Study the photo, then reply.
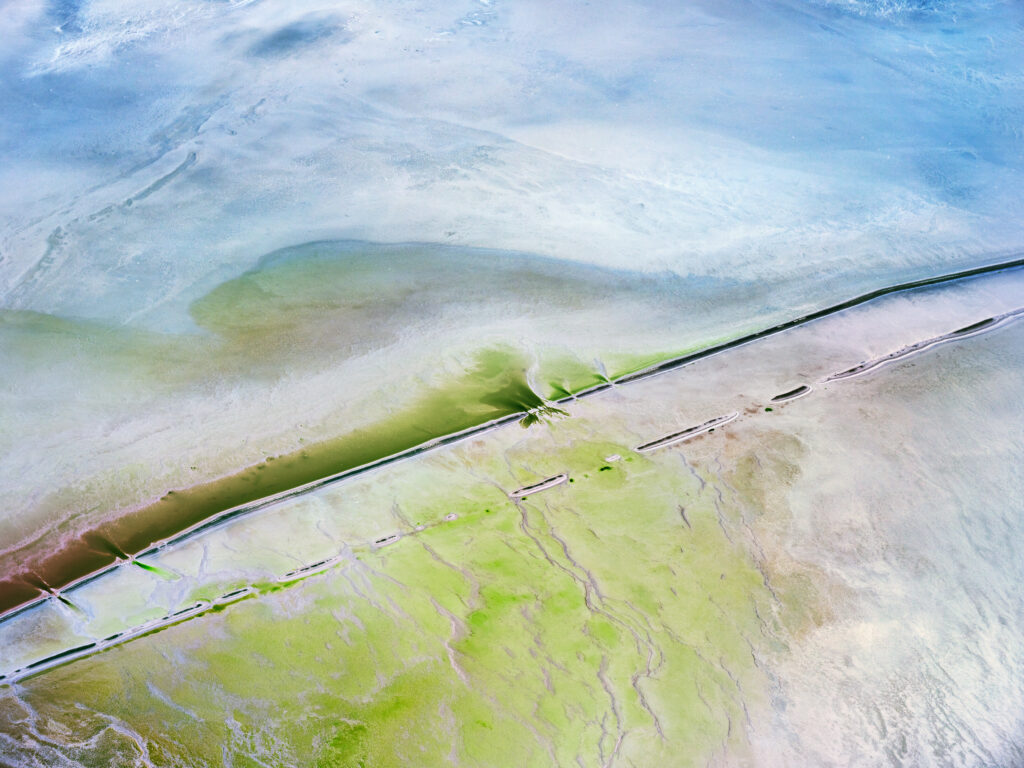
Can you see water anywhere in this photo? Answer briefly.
Yes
